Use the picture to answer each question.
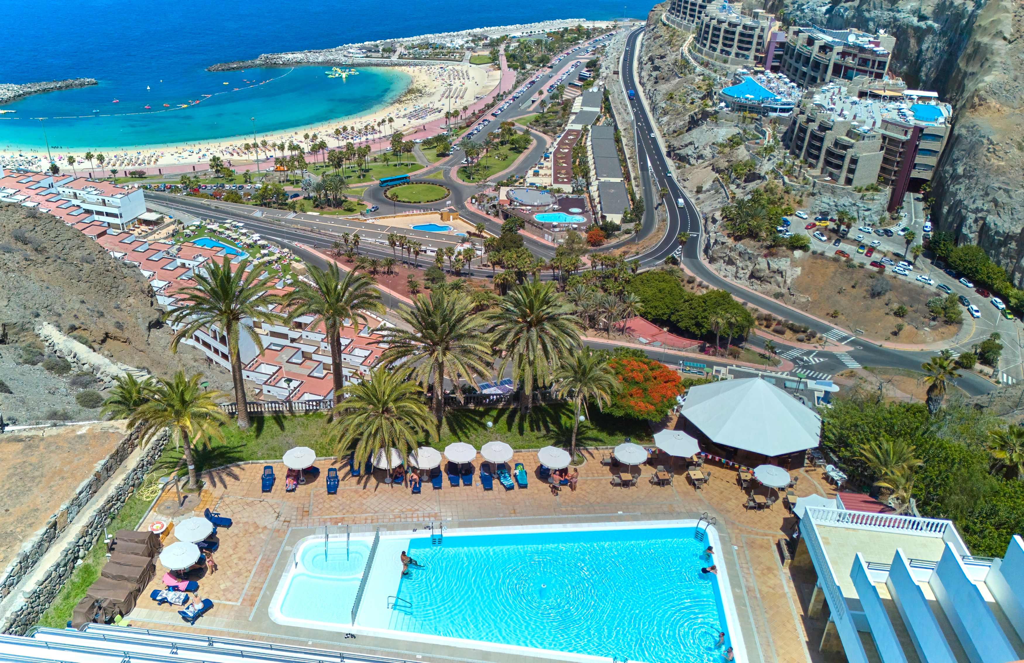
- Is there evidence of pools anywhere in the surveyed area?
Yes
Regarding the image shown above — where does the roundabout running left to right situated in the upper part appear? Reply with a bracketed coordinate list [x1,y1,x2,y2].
[356,175,477,209]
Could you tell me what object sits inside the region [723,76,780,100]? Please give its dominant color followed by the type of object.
blue swimming pool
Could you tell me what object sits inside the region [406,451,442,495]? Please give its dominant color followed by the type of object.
white umbrella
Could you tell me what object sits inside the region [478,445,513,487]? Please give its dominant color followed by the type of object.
white umbrella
